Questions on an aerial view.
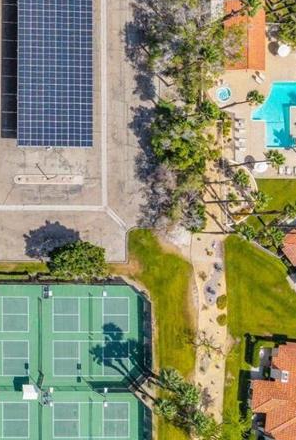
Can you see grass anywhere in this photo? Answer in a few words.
Yes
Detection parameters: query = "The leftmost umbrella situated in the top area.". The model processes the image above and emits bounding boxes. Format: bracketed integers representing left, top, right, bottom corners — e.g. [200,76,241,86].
[251,161,266,173]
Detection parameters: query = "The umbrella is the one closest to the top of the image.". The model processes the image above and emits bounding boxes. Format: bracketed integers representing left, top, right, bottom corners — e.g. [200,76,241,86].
[275,44,291,57]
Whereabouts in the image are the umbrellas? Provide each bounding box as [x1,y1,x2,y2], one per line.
[275,44,291,57]
[251,161,266,173]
